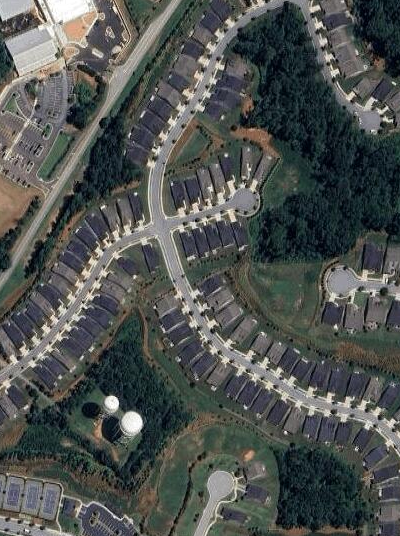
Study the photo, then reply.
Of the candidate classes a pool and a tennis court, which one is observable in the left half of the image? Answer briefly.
tennis court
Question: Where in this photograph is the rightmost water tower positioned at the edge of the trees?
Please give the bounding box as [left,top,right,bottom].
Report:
[117,411,144,440]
